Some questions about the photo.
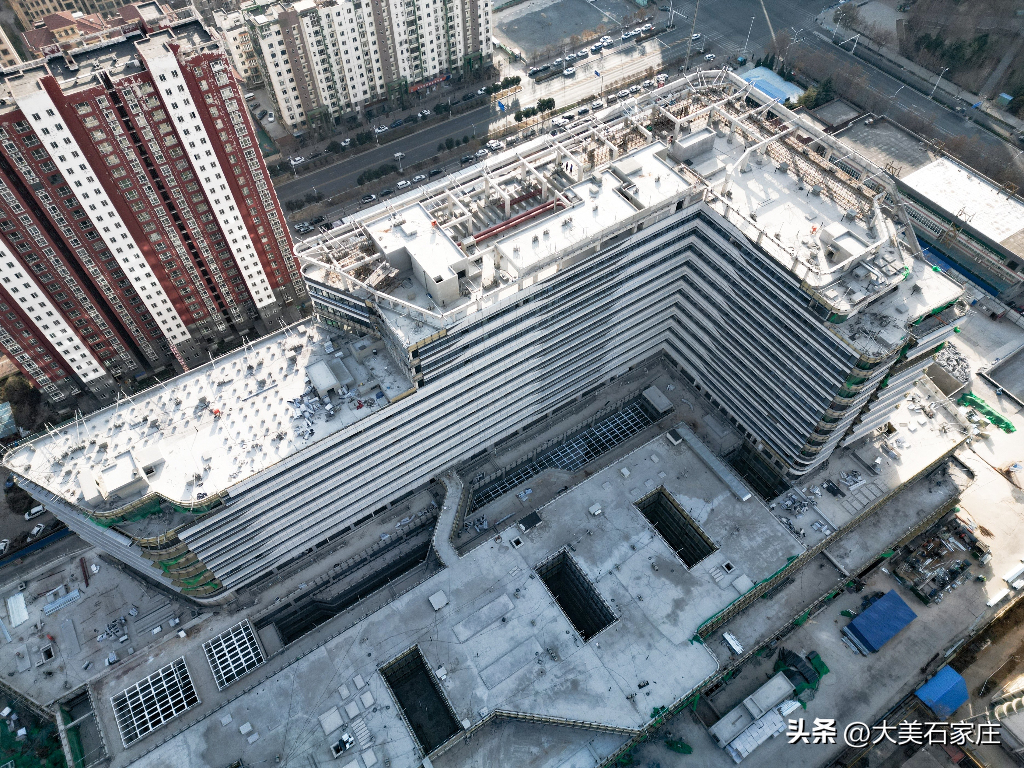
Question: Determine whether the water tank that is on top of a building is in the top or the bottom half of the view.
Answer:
top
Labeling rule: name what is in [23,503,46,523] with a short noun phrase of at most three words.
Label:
car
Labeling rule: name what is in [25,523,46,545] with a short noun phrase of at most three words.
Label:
car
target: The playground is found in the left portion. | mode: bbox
[247,116,276,159]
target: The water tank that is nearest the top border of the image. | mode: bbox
[664,122,718,169]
